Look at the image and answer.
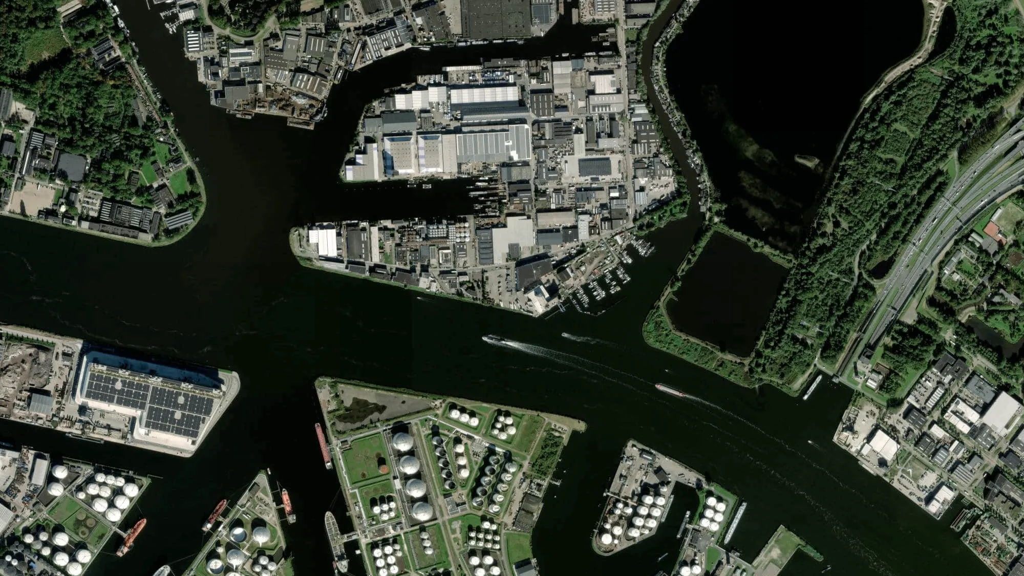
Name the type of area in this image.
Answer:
port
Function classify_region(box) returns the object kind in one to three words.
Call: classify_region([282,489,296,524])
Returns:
ship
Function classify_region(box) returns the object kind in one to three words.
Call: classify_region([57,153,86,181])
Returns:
building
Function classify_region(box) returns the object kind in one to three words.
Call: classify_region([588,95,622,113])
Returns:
building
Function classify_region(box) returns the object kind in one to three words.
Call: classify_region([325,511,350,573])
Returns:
ship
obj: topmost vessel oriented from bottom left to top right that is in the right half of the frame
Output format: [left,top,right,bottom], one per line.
[803,375,822,400]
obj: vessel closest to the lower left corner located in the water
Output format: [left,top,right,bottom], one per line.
[117,518,146,558]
